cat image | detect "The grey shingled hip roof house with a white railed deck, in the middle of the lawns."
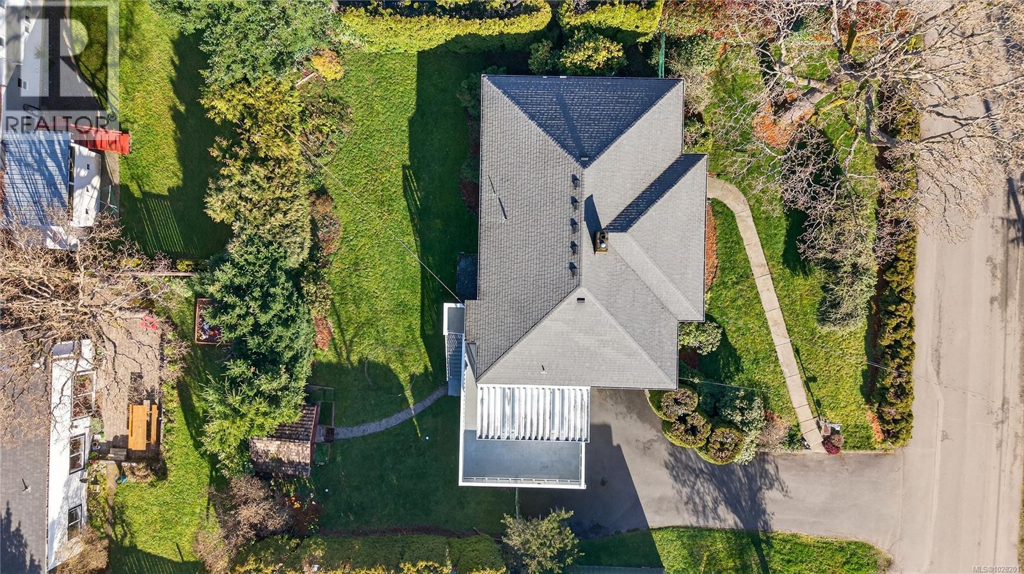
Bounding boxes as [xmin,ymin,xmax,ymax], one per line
[440,72,710,488]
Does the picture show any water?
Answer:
No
